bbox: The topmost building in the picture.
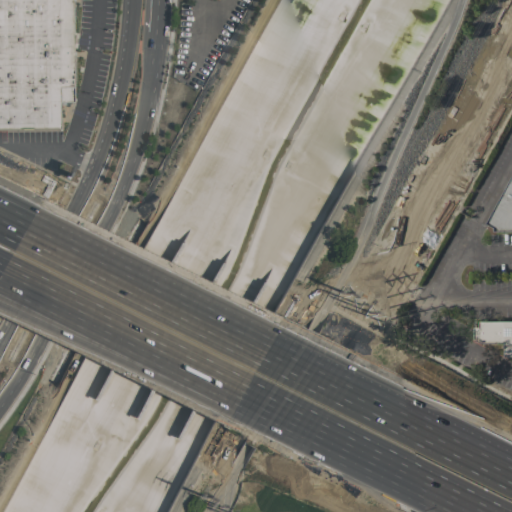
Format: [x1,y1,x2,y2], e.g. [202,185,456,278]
[0,0,76,130]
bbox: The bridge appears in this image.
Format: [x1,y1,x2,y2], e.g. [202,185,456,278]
[0,200,329,448]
